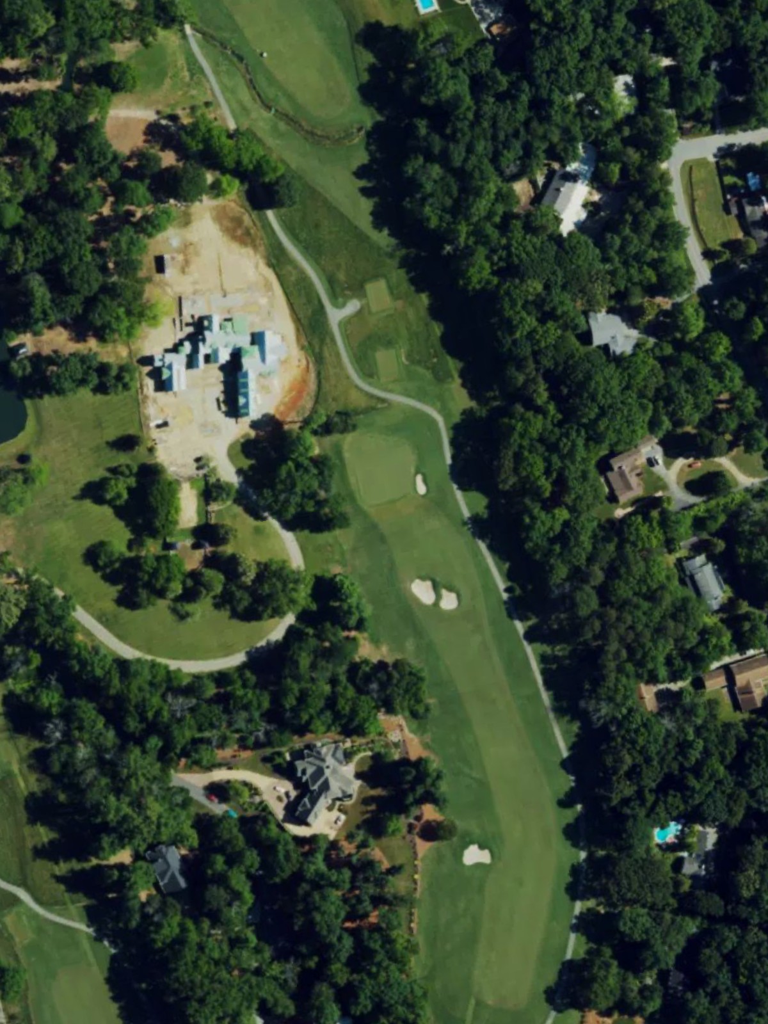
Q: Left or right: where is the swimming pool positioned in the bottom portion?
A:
right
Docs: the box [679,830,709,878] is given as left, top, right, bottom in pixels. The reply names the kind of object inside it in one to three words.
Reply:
building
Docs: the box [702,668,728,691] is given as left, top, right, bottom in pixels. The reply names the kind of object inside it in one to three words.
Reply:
building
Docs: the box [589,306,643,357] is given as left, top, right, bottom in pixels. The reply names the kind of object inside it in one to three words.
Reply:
house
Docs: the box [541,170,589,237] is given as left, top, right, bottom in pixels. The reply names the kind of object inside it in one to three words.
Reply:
house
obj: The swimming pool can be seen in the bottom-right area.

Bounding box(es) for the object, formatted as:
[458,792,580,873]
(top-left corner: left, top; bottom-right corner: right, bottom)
[655,821,681,844]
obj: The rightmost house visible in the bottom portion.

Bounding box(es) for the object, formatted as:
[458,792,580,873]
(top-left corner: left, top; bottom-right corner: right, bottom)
[727,653,768,715]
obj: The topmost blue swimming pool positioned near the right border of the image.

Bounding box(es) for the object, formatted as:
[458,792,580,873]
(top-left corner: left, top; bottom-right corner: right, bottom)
[746,171,761,192]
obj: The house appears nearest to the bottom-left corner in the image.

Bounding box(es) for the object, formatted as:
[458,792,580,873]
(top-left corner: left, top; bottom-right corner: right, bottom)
[143,842,187,894]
